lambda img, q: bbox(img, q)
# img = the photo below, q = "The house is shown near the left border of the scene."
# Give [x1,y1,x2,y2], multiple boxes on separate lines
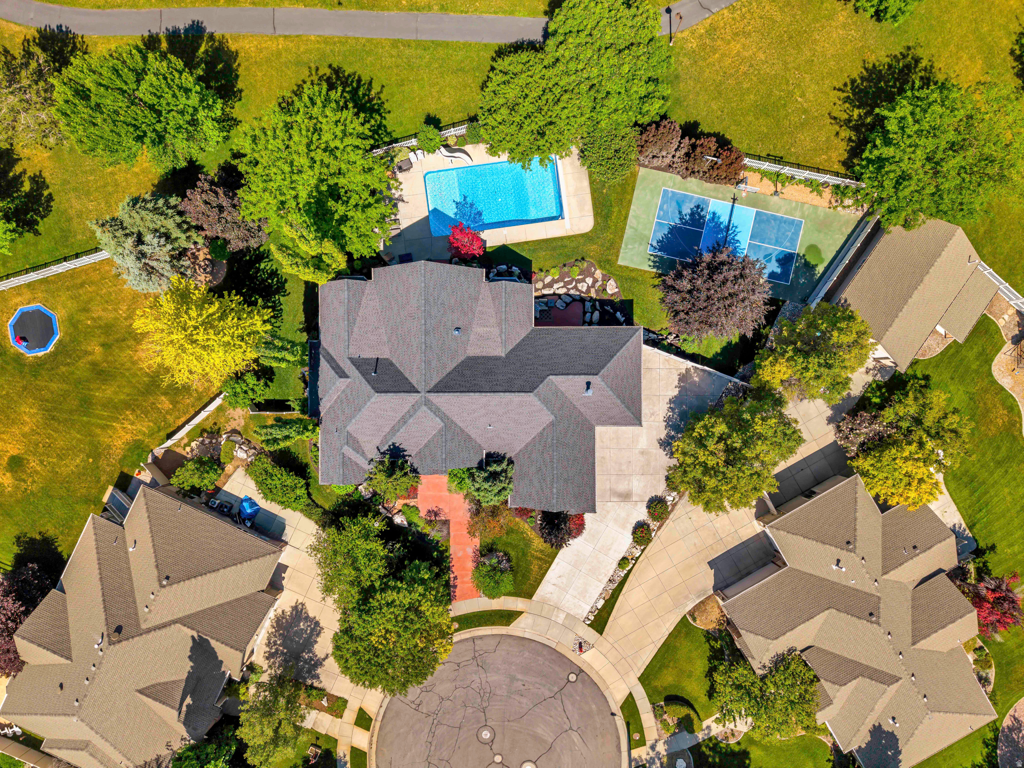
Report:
[0,484,289,768]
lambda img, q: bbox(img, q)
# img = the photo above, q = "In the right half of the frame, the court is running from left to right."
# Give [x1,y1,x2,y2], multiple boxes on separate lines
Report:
[618,167,860,301]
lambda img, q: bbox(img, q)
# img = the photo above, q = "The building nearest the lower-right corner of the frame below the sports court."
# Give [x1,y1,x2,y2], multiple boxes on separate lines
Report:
[717,473,998,768]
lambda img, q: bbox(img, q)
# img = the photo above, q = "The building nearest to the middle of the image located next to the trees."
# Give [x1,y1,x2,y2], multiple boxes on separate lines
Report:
[308,260,643,513]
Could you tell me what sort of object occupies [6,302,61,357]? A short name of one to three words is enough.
trampoline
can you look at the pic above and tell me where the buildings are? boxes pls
[828,208,1005,374]
[0,484,289,768]
[717,473,998,768]
[308,260,643,513]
